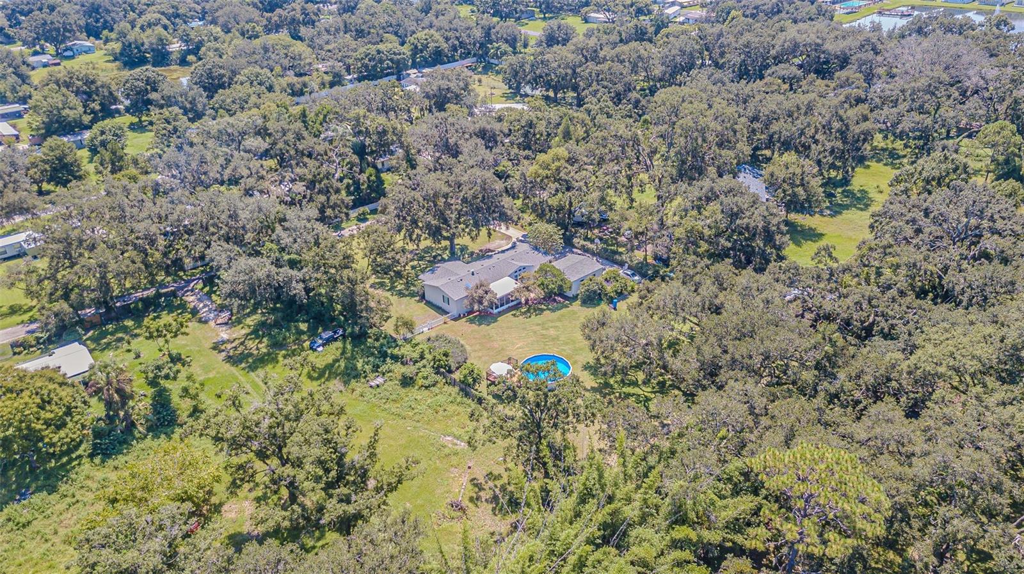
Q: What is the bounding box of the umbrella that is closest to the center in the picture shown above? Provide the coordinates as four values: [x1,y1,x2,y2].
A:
[487,360,514,381]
